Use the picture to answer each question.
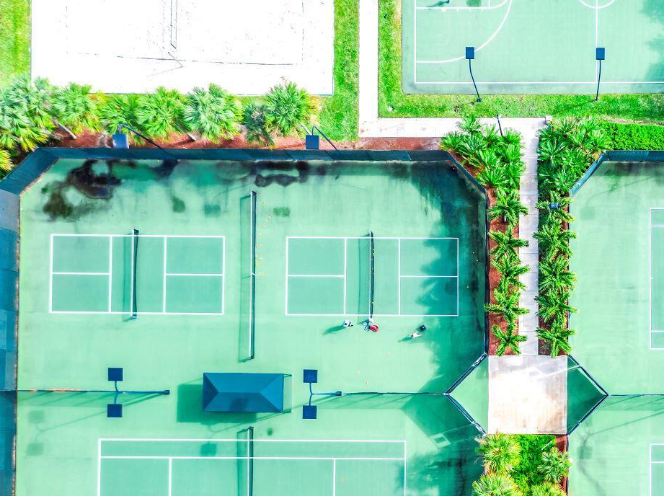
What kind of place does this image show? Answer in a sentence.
The picture captures a sports ground.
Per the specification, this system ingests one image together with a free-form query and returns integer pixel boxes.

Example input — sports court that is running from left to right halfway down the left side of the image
[50,234,223,315]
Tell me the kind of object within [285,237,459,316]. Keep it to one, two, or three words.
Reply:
sports court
